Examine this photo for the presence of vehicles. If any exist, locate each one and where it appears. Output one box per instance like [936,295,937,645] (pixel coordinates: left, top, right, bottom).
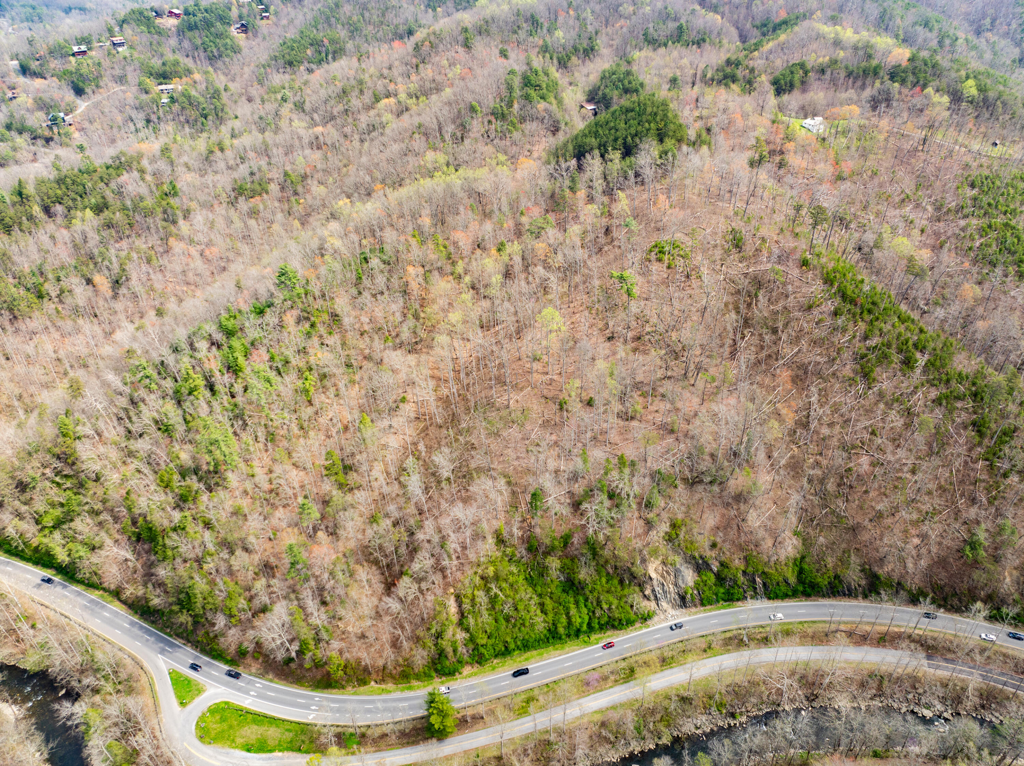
[923,612,938,619]
[670,621,684,630]
[225,669,241,679]
[981,634,997,641]
[436,685,451,694]
[602,641,615,649]
[512,667,529,677]
[770,613,784,620]
[189,663,202,672]
[1010,633,1024,641]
